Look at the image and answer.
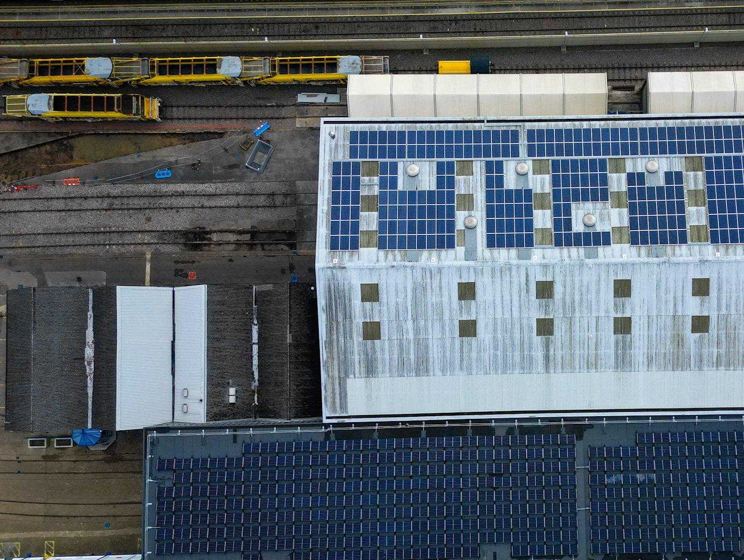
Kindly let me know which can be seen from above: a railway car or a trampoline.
railway car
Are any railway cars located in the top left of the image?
Yes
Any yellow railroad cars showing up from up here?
Yes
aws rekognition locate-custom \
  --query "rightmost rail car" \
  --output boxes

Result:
[436,56,495,73]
